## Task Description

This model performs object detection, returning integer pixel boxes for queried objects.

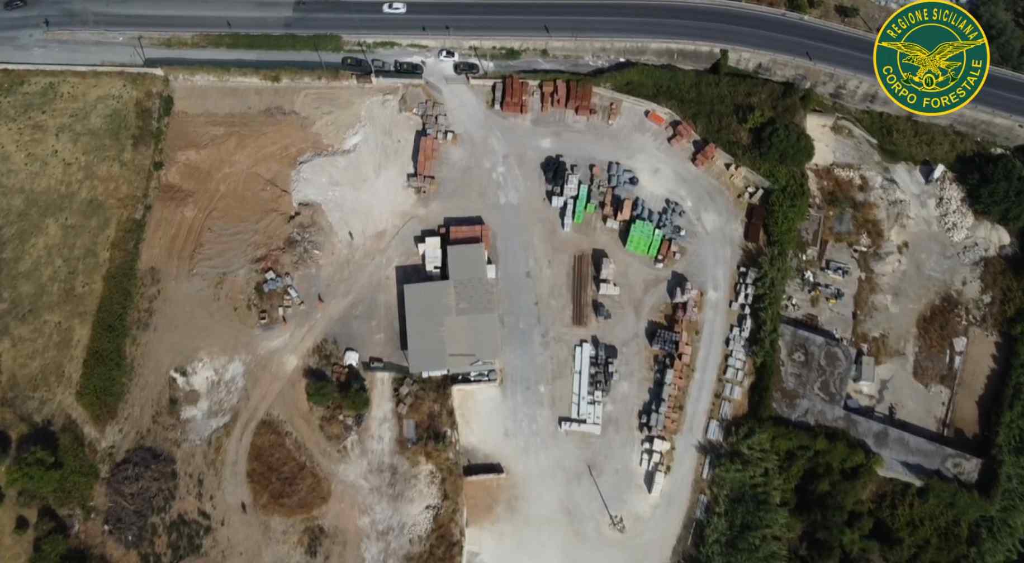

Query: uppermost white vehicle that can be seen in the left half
[383,1,407,14]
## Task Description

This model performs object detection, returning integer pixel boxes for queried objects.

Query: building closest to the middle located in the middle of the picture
[403,243,498,374]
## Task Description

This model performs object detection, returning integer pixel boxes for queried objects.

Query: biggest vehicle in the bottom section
[343,348,358,367]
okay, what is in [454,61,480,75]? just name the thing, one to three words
vehicle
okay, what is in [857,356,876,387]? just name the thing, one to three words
shed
